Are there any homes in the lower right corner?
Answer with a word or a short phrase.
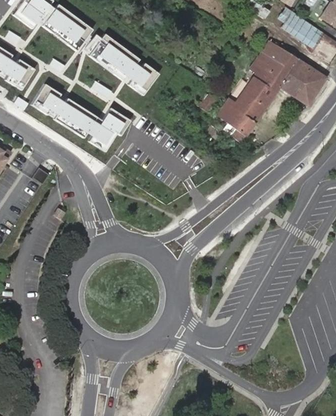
No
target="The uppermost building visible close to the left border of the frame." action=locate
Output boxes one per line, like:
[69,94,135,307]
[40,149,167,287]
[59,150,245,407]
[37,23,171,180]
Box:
[12,0,94,56]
